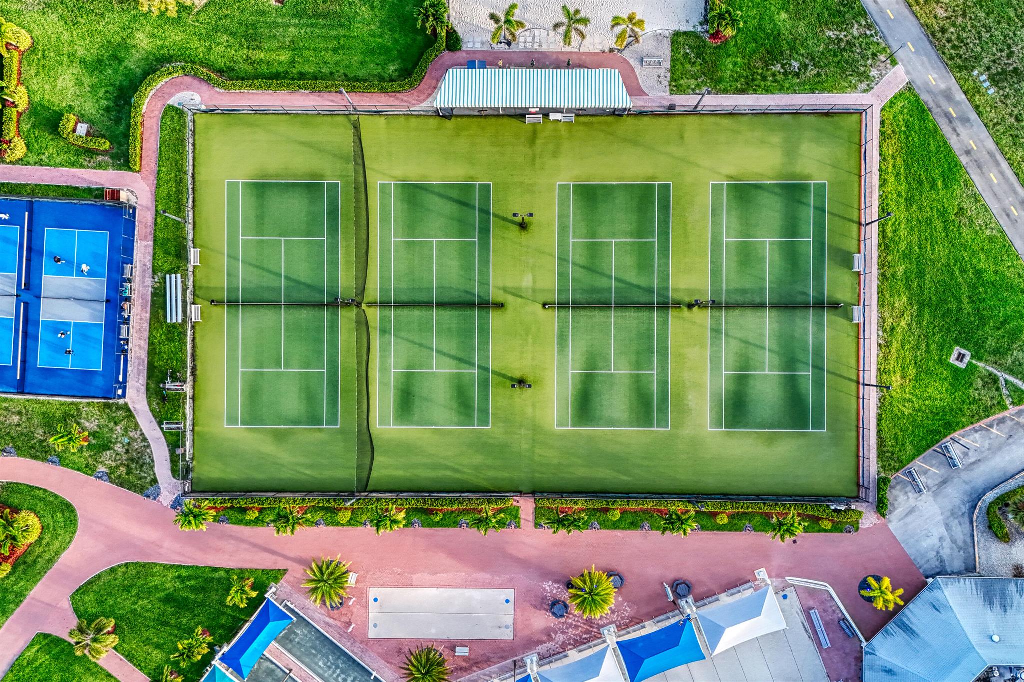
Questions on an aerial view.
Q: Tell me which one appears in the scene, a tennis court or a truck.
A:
tennis court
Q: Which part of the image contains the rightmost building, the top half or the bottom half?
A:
bottom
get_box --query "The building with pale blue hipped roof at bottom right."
[863,576,1024,682]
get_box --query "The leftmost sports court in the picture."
[0,225,20,366]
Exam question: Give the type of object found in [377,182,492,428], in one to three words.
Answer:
tennis court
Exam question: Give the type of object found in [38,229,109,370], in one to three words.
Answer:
sports court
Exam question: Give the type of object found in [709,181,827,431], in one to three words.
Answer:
tennis court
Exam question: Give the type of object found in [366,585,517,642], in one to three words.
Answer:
sports court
